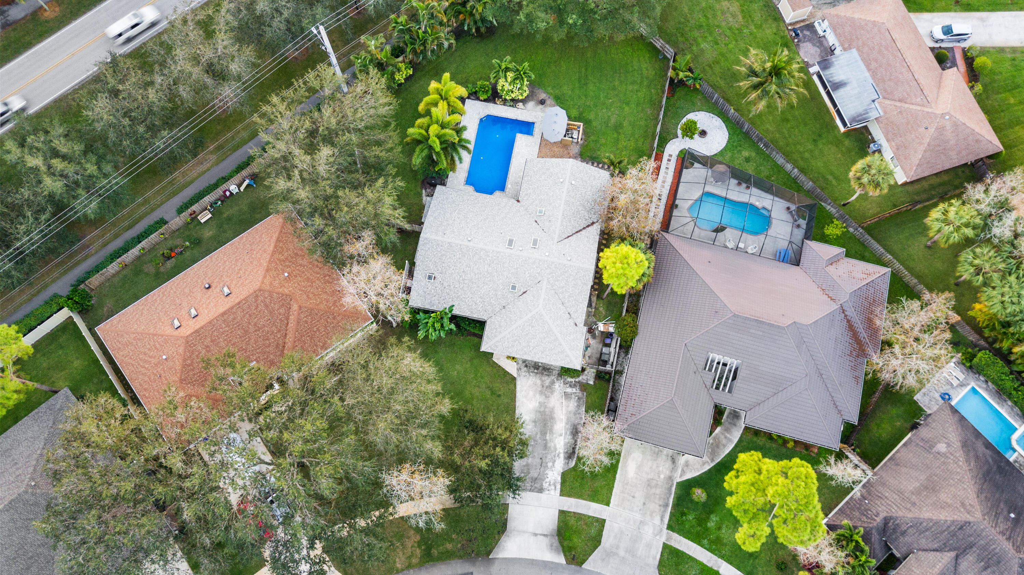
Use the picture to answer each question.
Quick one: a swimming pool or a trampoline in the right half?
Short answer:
swimming pool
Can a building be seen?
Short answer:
Yes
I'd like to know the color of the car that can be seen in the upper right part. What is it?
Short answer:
white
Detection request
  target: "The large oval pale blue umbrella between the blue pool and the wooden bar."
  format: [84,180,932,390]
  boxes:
[543,108,567,141]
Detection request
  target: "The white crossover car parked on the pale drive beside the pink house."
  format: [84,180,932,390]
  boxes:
[935,20,977,41]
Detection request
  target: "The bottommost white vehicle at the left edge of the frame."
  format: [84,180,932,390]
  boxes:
[0,93,26,122]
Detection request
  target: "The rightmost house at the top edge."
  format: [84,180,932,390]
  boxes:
[811,0,1004,188]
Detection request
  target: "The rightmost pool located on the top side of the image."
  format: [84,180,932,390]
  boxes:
[689,192,771,234]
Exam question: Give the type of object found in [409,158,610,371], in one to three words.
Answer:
house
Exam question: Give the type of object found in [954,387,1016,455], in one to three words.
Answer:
swimming pool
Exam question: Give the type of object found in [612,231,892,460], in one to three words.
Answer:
house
